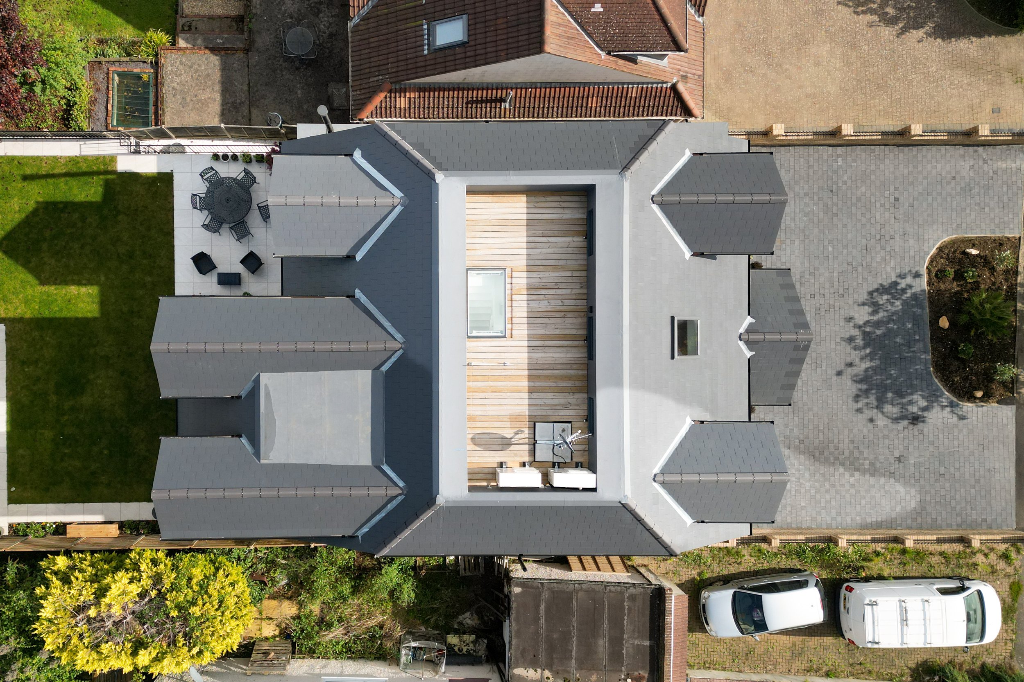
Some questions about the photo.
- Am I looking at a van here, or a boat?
van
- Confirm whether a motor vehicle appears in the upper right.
No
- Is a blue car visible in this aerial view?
No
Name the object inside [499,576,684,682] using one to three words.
building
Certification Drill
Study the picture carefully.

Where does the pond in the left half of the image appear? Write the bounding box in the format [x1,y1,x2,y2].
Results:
[107,66,156,129]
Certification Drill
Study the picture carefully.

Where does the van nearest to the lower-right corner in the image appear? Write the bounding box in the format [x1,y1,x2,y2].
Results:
[830,573,1002,657]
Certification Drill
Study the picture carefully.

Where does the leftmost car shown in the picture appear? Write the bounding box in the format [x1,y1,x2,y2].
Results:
[696,563,829,646]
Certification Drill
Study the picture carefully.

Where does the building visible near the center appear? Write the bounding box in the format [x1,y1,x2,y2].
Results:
[149,102,814,559]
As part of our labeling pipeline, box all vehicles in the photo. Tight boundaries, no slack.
[830,573,1002,657]
[696,563,829,646]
